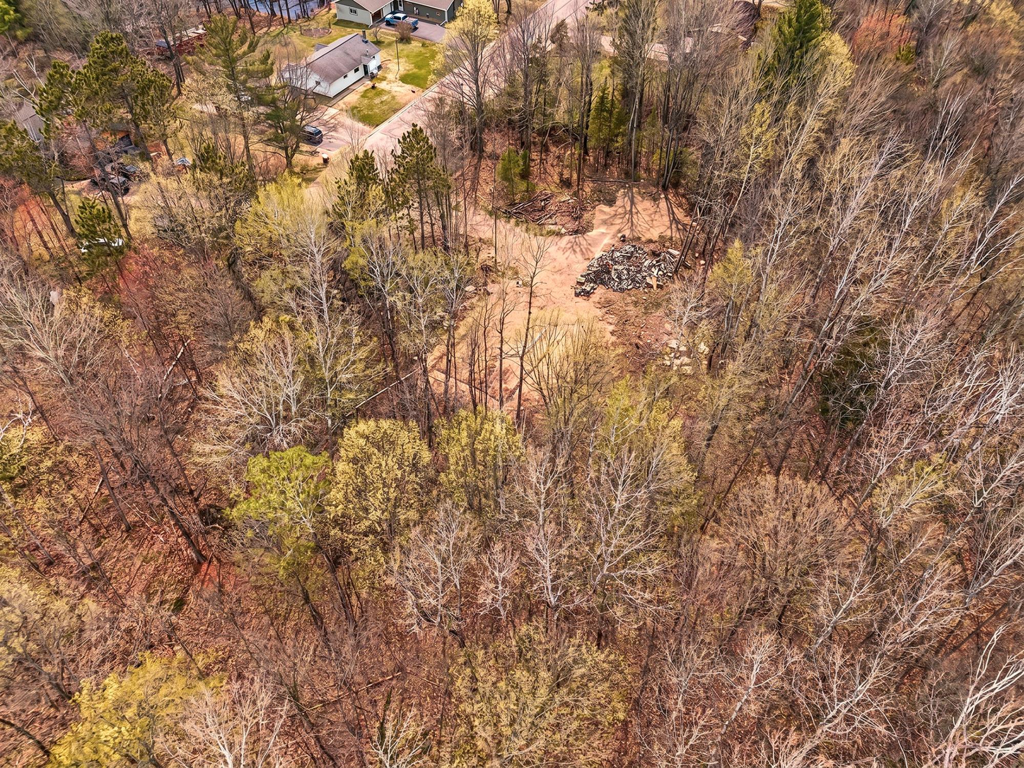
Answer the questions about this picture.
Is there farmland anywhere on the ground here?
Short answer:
No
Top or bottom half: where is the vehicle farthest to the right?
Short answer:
top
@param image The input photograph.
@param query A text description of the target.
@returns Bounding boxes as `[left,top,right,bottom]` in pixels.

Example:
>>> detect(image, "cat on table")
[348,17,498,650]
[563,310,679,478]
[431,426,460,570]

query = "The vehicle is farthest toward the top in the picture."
[385,10,422,30]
